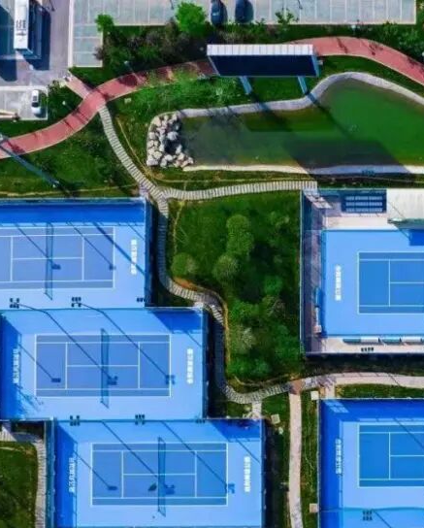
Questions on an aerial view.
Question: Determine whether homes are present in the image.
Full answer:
No, no home is visible in the view.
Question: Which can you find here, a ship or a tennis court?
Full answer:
It is a tennis court that can be seen here.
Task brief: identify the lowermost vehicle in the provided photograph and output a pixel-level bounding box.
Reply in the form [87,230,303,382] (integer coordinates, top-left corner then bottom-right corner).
[29,90,43,116]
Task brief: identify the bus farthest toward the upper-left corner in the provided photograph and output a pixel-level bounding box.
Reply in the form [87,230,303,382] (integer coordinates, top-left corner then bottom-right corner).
[11,0,34,52]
